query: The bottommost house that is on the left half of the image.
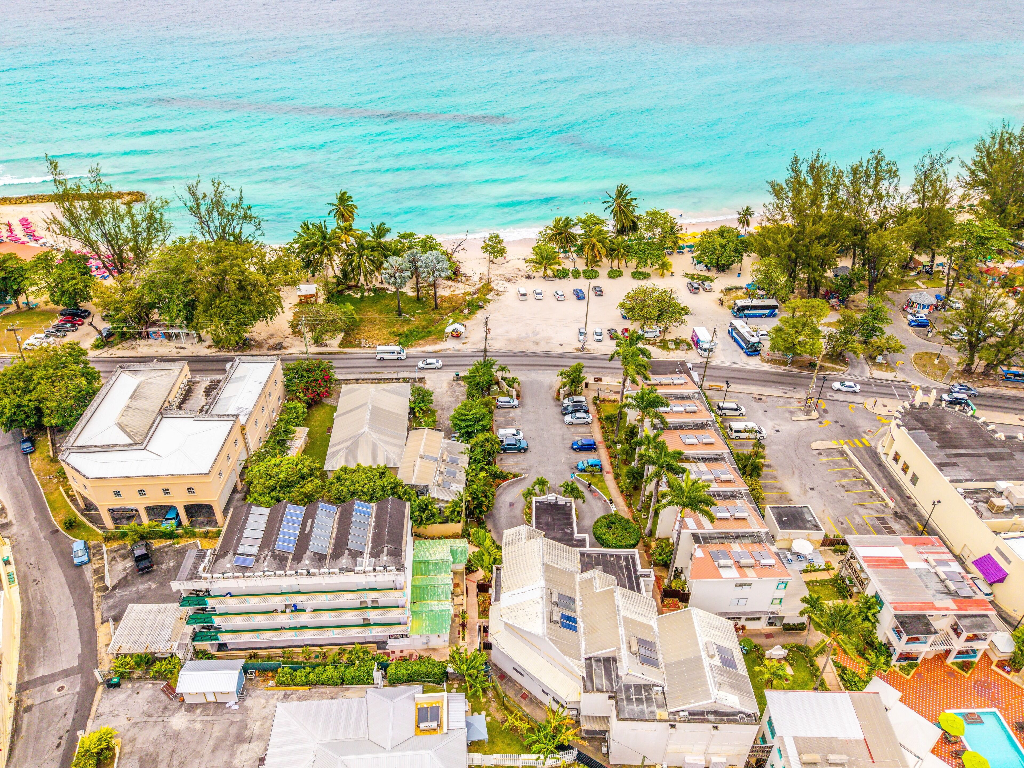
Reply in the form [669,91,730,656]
[264,684,468,768]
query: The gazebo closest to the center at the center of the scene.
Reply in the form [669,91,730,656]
[445,323,467,342]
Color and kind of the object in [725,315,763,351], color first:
white bus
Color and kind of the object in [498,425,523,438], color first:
white vehicle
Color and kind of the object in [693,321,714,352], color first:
white truck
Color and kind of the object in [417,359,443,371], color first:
white vehicle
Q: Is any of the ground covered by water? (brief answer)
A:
Yes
